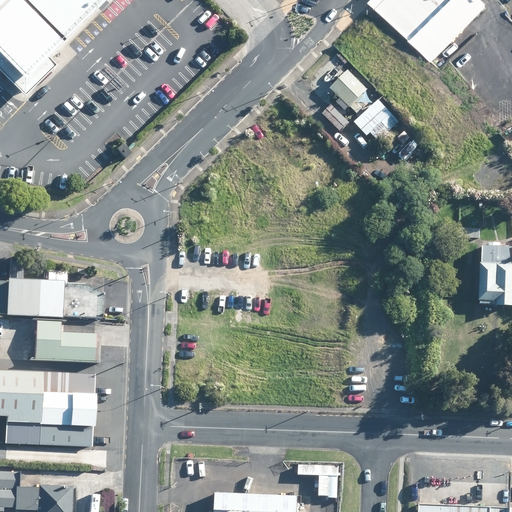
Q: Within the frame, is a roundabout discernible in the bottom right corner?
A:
No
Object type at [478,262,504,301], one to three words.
house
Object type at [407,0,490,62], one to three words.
building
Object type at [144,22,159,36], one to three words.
car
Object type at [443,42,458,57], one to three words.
car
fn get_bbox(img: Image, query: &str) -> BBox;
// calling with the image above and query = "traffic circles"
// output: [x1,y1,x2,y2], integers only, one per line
[109,208,145,244]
